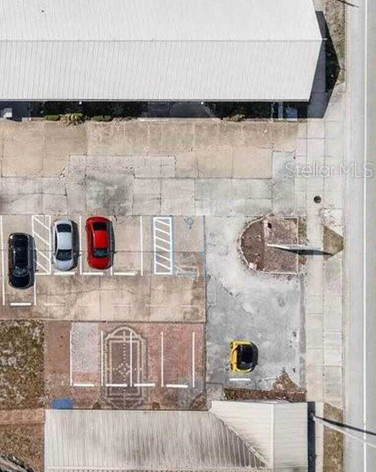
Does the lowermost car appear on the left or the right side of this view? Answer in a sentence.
It is on the right.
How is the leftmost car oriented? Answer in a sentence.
Seen from above, the leftmost car lies up and down.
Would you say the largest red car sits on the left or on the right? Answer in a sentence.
You can find the largest red car on the left side of the picture.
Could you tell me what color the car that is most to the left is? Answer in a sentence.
The car that is most to the left is black.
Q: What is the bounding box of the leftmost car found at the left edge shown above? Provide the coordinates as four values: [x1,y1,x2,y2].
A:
[10,235,38,289]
